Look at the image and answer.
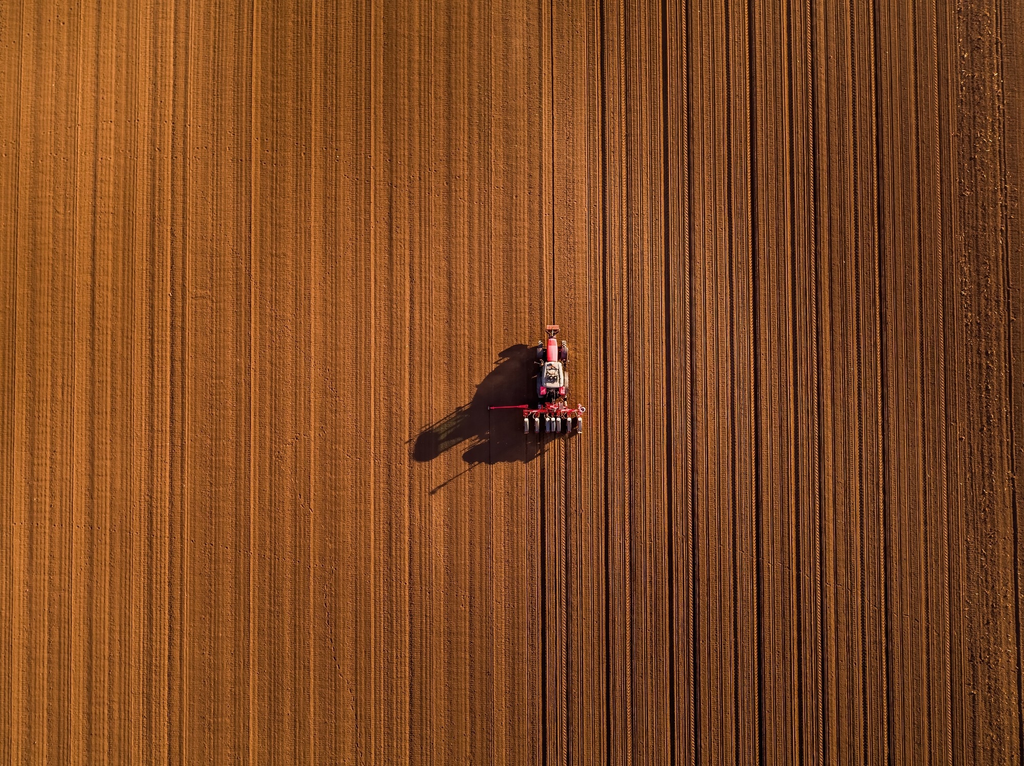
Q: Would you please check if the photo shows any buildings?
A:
No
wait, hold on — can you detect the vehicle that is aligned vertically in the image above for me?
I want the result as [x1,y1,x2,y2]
[536,325,568,404]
